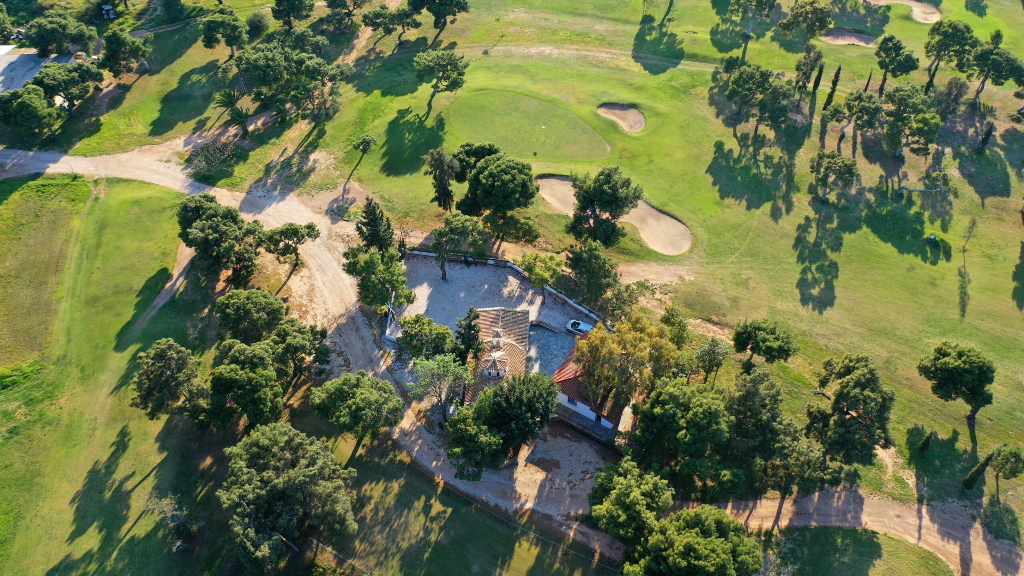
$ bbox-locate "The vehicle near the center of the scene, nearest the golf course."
[565,321,590,338]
